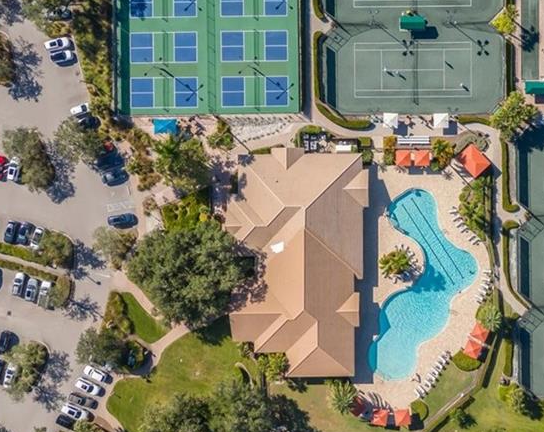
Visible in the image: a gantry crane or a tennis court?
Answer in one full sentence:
Visible in the photo is a tennis court.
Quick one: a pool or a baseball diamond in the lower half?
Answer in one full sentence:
What appears in the lower half is a pool.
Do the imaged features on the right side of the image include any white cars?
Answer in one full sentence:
No, I see no white car on the right side of the image.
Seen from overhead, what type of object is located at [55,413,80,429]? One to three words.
car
